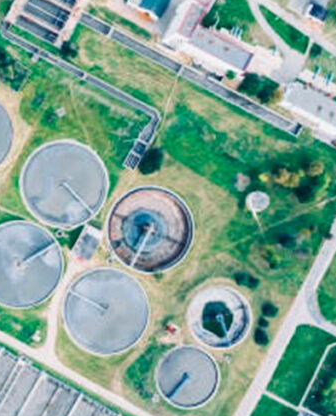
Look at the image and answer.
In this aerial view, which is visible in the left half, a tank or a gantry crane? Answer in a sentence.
Looking in the left half, you will find a tank.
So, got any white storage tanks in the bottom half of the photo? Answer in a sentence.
Yes, a white storage tank shows up in the bottom half of the photo.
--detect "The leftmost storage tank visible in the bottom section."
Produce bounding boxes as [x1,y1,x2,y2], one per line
[0,221,63,309]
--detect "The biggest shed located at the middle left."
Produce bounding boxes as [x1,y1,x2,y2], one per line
[76,233,101,261]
